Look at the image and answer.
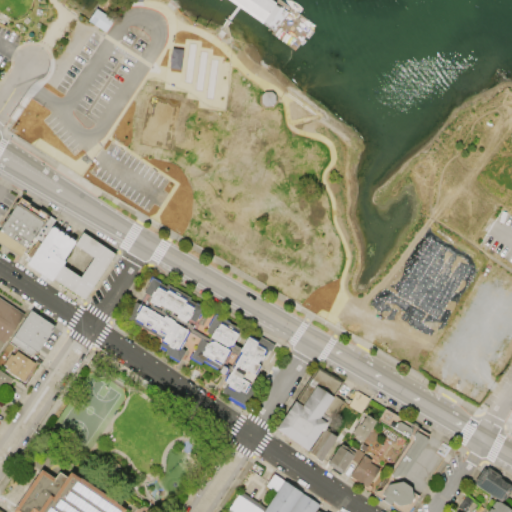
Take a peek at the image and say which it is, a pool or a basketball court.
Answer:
basketball court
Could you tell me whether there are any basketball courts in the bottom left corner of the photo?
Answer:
Yes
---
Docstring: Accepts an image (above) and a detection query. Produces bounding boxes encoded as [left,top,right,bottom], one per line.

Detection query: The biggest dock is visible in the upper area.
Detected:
[272,8,316,51]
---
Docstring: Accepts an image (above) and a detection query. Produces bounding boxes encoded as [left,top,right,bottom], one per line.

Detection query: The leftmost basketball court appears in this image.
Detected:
[57,370,126,447]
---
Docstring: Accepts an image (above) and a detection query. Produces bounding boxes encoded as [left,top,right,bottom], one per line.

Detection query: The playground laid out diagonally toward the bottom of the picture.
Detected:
[146,440,192,500]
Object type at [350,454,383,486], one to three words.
house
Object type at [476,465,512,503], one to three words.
house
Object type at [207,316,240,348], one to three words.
building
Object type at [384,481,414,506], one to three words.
building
